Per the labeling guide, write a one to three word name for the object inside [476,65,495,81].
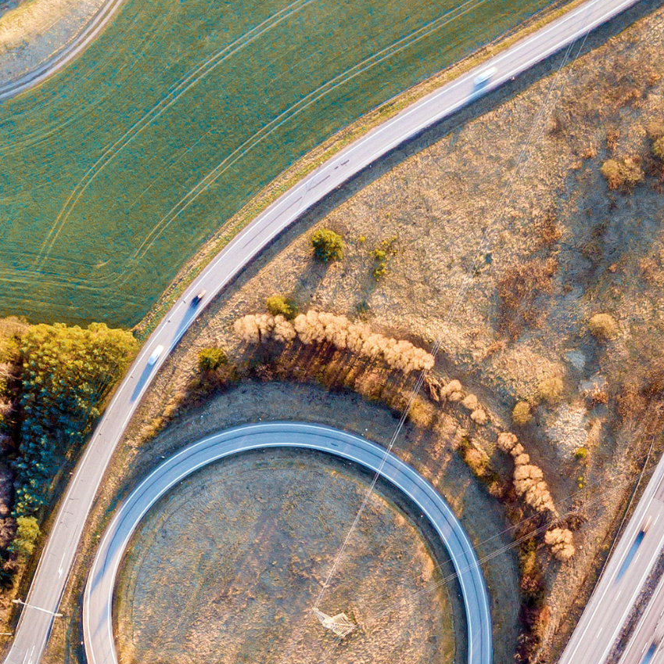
vehicle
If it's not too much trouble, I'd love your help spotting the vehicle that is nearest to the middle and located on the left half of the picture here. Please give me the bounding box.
[189,291,203,307]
